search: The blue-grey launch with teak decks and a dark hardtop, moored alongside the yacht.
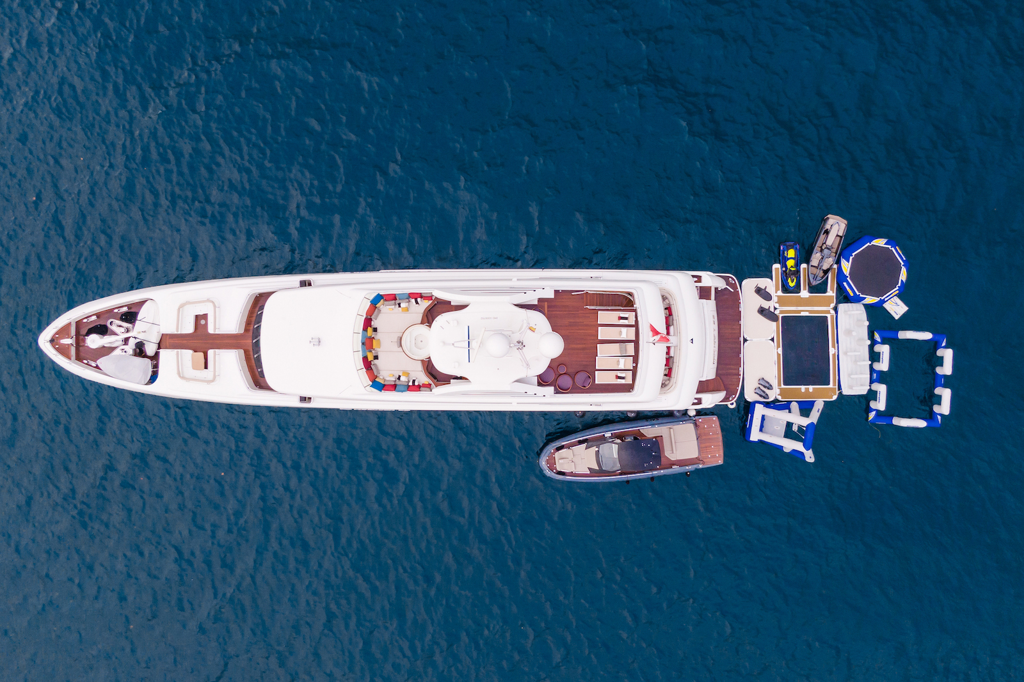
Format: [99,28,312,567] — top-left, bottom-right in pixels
[537,416,723,484]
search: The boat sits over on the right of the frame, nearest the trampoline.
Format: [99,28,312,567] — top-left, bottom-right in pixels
[809,214,848,286]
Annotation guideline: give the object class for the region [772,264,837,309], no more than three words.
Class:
pier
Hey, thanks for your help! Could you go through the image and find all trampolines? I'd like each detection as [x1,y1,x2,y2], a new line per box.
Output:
[837,235,910,307]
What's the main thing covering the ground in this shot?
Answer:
water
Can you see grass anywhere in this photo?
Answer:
No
